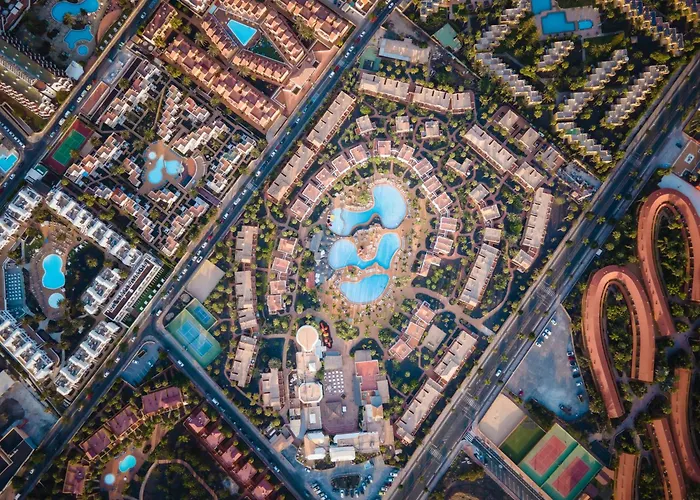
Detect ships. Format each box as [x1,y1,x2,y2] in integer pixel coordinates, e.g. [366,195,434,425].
[319,320,332,350]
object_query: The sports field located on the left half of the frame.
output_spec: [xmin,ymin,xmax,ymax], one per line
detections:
[187,259,224,303]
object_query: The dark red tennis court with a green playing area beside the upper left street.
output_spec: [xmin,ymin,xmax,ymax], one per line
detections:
[40,118,94,175]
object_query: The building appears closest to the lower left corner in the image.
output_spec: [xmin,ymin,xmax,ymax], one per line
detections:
[0,425,41,495]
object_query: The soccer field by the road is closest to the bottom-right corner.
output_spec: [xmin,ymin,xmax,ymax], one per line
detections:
[500,416,547,467]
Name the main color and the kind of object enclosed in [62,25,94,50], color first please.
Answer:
blue swimming pool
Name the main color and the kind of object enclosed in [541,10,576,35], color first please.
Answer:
blue swimming pool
